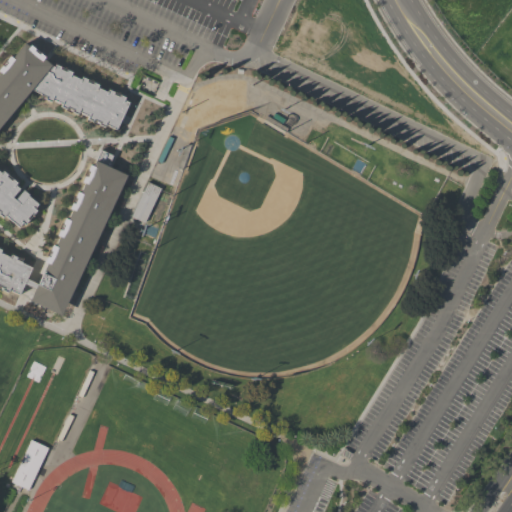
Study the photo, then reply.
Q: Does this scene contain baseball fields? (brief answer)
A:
Yes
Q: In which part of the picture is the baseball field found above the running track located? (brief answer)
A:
center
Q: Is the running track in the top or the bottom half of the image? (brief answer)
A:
bottom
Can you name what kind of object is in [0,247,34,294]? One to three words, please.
building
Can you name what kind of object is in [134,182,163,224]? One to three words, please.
building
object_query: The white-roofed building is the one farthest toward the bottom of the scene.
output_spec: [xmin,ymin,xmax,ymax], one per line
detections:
[14,440,50,490]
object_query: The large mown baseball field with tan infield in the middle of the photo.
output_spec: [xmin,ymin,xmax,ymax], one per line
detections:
[132,108,422,378]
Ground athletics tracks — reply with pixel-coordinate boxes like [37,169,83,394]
[27,426,185,512]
